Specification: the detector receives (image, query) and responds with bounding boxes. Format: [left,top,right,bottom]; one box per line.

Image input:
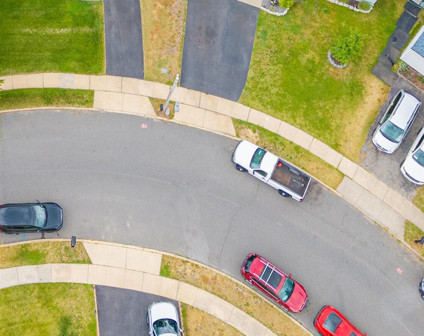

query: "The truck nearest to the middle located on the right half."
[229,143,311,203]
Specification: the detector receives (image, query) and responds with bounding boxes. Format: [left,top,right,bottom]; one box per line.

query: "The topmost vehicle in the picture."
[372,87,424,156]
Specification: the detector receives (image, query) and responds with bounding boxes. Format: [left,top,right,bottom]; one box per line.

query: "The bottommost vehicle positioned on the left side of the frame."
[146,297,182,336]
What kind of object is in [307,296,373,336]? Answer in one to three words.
car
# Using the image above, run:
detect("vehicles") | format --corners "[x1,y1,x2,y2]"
[399,128,424,189]
[146,297,182,336]
[0,199,62,233]
[235,248,310,317]
[307,296,373,336]
[229,143,311,203]
[372,87,424,156]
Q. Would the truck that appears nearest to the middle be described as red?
No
